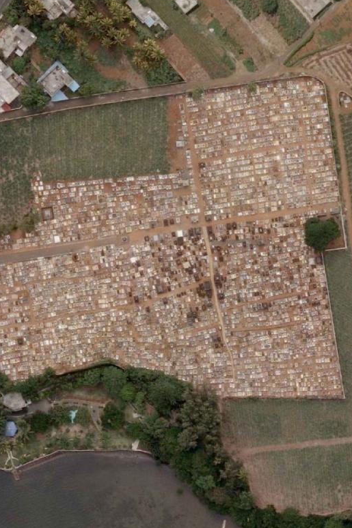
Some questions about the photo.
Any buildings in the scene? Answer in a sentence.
Yes, there is a building in the image.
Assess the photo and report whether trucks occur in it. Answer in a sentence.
No, there isn't any truck down there.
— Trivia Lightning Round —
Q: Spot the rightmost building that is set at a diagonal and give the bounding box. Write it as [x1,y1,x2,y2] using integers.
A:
[125,0,168,29]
